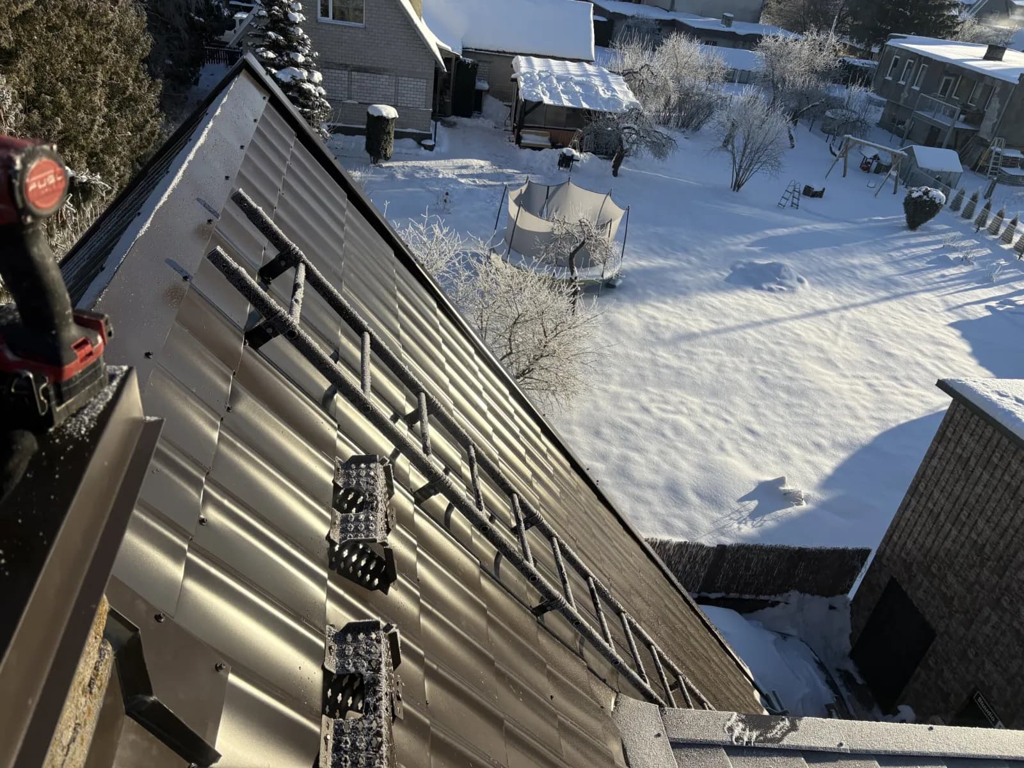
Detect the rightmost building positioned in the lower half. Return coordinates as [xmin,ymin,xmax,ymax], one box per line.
[844,376,1024,726]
